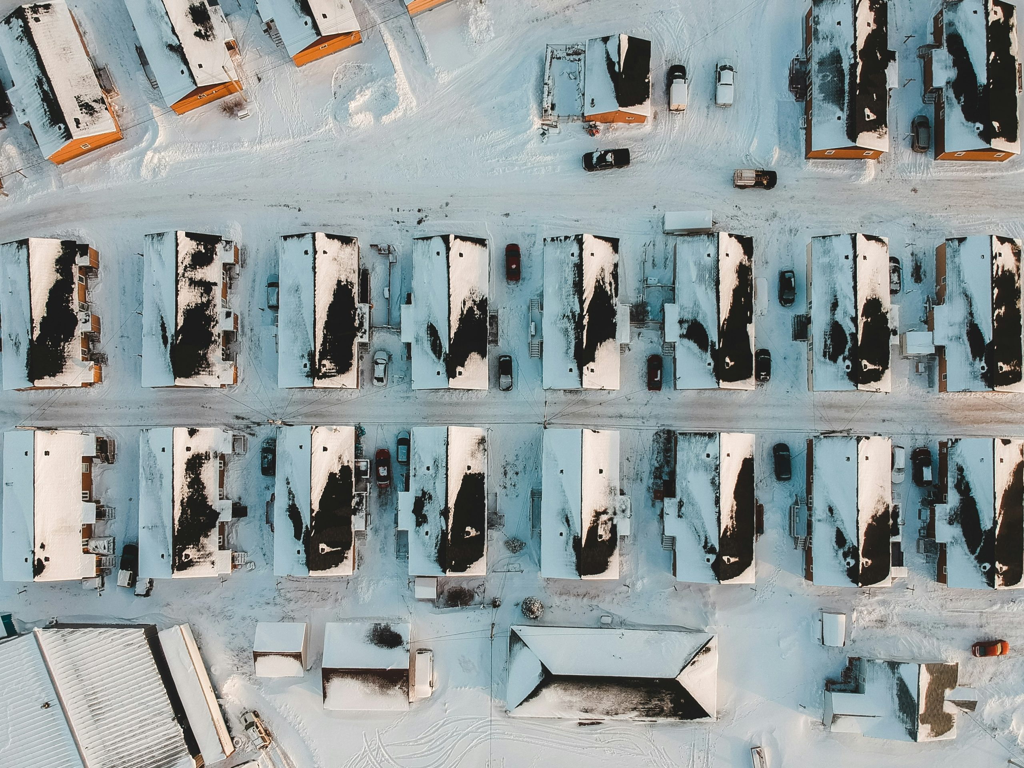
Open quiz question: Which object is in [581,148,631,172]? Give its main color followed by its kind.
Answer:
black truck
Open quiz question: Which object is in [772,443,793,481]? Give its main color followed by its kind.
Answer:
black car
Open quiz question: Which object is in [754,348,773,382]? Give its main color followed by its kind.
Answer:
black car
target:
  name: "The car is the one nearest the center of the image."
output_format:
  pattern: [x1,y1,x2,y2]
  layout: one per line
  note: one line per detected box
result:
[496,355,515,392]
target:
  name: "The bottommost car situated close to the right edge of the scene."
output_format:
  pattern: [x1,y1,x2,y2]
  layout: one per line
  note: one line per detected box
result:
[969,638,1008,657]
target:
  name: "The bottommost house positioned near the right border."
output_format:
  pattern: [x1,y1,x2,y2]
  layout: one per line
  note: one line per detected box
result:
[823,656,978,744]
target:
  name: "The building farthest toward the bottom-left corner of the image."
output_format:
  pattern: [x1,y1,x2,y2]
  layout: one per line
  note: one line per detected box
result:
[0,620,211,768]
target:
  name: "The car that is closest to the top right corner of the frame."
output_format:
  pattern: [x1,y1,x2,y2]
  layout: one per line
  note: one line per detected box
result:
[910,116,932,154]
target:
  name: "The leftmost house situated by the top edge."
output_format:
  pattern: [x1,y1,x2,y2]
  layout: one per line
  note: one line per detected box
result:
[0,0,124,164]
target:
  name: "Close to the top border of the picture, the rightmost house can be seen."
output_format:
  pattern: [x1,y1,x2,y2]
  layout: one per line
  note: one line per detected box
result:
[914,0,1024,160]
